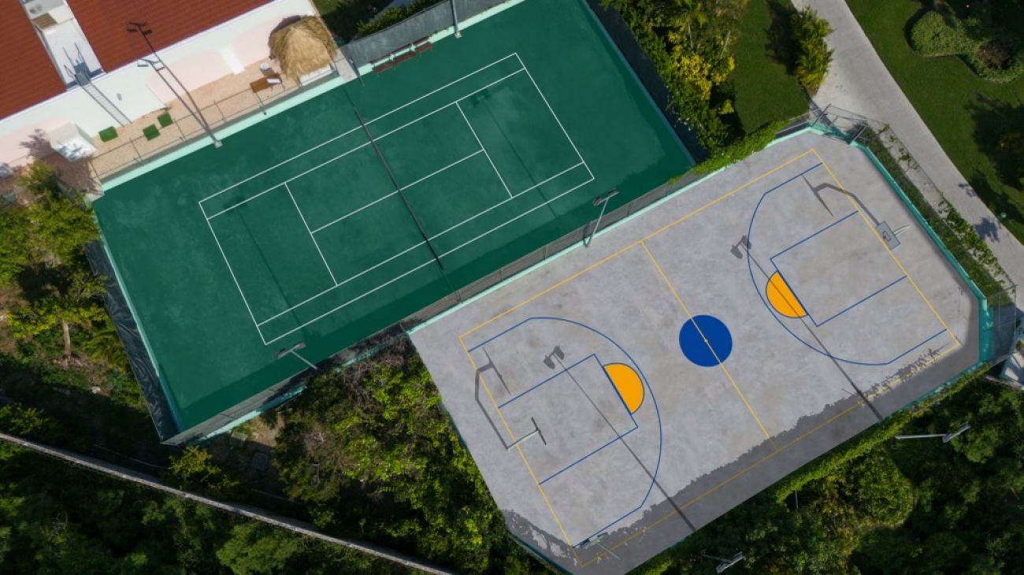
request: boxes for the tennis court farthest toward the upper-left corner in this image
[98,0,692,434]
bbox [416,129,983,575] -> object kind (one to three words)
basketball court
